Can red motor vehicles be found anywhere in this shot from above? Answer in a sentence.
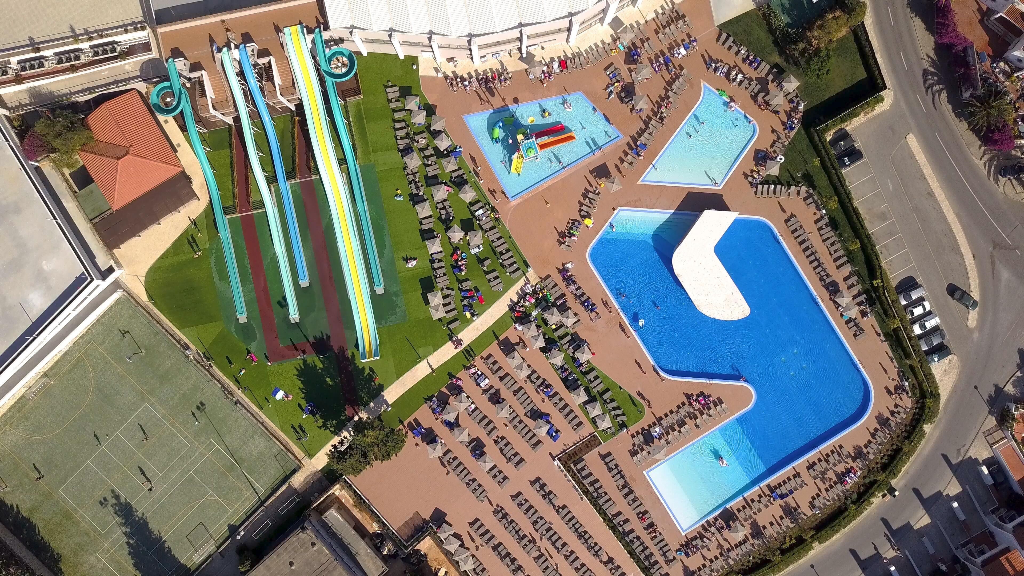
No, there isn't any red motor vehicle down there.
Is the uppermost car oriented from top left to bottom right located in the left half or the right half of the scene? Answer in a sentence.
It is on the right.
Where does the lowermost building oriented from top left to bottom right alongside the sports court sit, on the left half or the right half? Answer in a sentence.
The lowermost building oriented from top left to bottom right alongside the sports court appears in the left half of the scene.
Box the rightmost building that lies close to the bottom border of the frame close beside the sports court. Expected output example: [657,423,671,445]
[306,501,392,576]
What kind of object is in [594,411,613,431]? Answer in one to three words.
umbrella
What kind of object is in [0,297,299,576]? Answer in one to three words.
sports court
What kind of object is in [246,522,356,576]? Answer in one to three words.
building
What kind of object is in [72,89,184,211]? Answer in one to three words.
house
